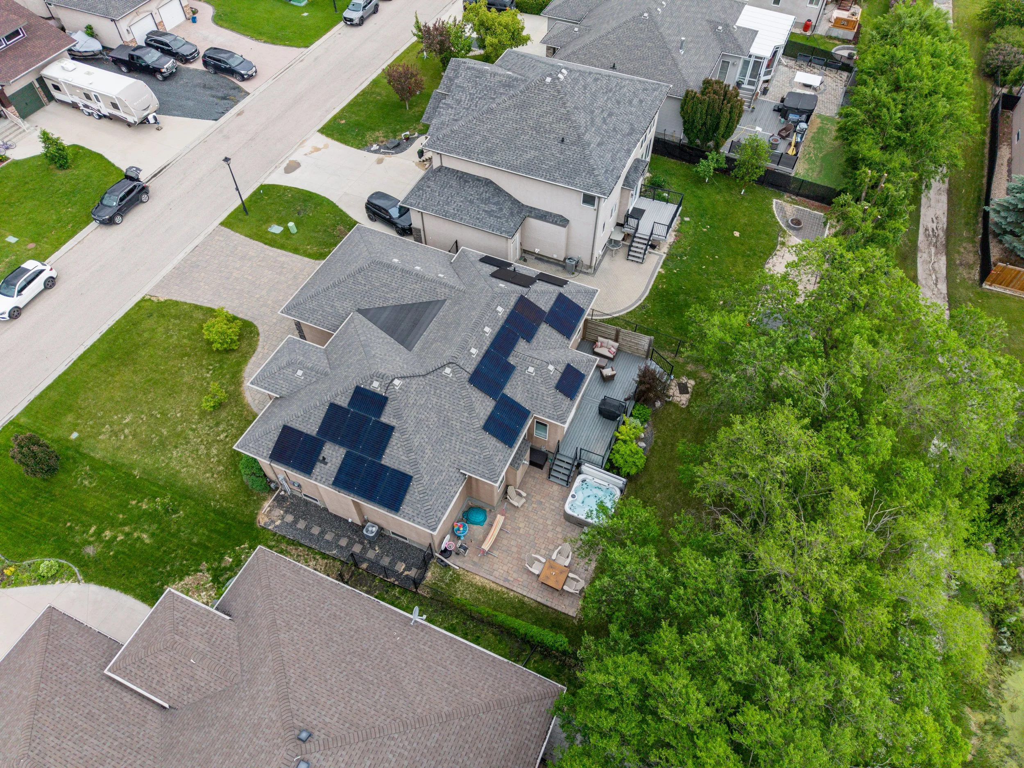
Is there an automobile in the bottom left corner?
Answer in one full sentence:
No, the scene shows no automobile in the bottom left corner.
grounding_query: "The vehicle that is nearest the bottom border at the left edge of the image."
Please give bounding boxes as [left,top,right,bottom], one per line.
[0,262,56,325]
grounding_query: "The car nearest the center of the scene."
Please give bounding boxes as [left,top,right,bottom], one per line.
[360,190,416,237]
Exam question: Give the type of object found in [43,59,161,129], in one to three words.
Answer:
trailer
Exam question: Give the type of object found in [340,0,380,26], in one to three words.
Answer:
car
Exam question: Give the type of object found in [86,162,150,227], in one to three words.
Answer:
car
